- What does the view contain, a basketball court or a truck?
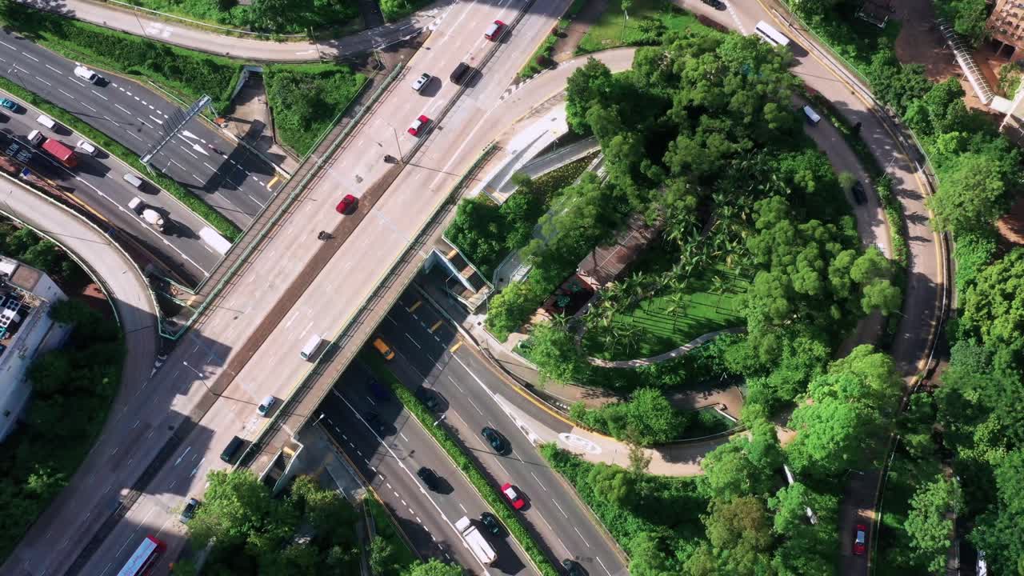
truck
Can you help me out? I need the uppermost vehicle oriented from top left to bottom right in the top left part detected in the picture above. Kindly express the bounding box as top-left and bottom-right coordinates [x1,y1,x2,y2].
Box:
[71,62,101,84]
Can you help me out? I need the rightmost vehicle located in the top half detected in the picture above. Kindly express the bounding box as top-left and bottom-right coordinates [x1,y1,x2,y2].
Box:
[848,181,868,207]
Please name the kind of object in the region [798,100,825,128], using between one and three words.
vehicle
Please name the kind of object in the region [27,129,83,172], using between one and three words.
truck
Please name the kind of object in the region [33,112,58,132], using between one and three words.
vehicle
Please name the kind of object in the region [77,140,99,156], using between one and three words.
car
